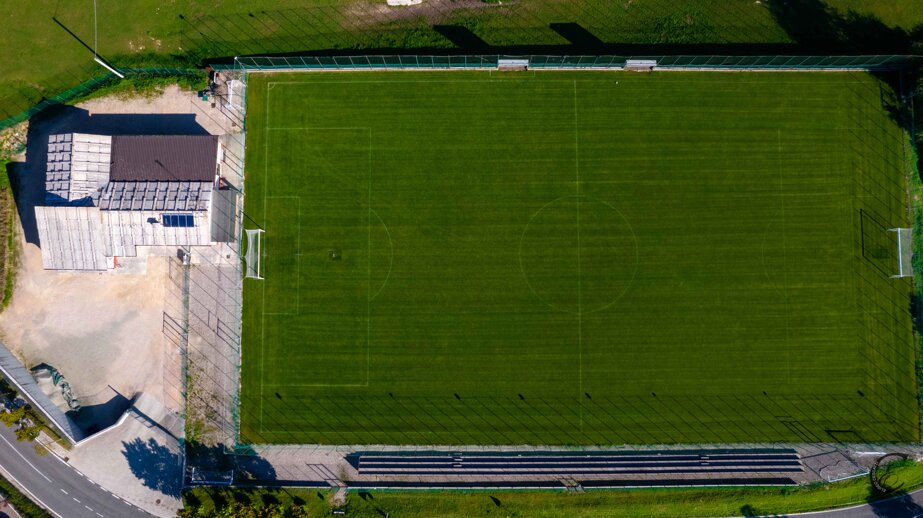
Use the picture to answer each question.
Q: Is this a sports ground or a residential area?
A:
sports ground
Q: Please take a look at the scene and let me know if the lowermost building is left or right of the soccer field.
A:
to the left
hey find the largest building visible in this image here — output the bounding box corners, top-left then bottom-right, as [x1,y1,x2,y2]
[34,132,240,271]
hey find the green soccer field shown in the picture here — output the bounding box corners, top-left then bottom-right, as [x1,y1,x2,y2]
[240,69,919,444]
